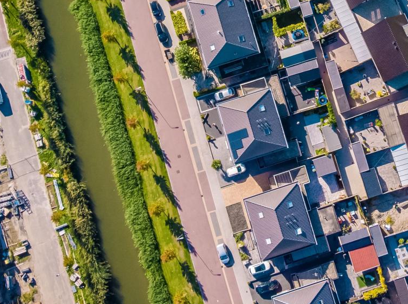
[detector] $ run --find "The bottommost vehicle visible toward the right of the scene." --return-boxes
[255,279,280,295]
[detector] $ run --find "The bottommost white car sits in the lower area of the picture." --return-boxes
[247,260,272,276]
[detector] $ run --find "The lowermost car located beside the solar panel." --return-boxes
[225,163,247,177]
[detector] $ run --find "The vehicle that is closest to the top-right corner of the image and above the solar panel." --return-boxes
[214,88,236,101]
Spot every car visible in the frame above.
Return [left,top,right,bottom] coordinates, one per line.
[153,20,169,44]
[247,260,272,276]
[214,88,236,101]
[225,163,247,177]
[255,279,280,295]
[148,0,164,20]
[215,241,232,266]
